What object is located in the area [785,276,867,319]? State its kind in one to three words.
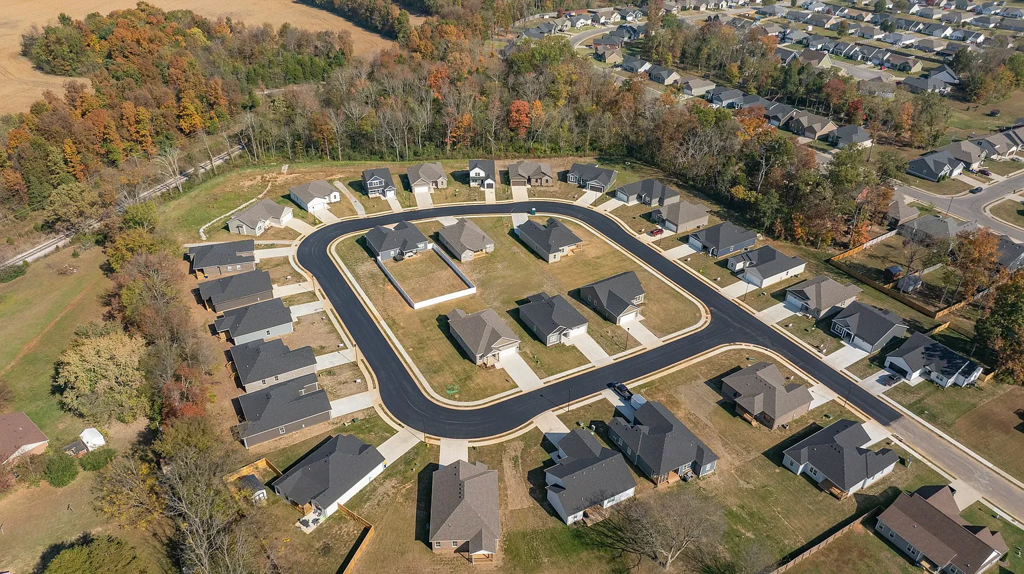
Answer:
house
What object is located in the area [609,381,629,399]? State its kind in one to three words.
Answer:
vehicle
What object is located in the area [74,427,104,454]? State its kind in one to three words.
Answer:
shed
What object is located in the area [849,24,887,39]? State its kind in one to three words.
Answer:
house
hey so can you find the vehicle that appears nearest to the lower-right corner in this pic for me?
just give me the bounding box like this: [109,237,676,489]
[881,372,907,386]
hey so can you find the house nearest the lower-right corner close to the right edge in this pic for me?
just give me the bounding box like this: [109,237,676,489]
[875,482,1014,574]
